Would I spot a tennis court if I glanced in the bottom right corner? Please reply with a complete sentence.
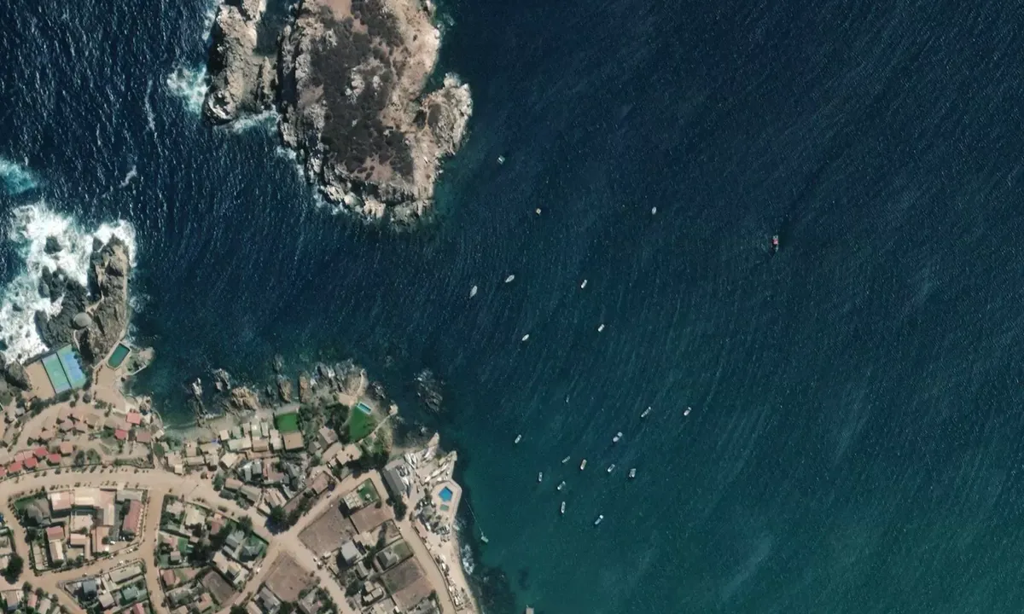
No, no tennis court appears in the bottom right corner.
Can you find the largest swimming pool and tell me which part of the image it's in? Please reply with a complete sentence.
The largest swimming pool appears toward the left of the photo.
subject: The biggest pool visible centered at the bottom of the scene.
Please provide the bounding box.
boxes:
[438,486,453,503]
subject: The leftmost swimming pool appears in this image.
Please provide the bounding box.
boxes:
[106,341,131,370]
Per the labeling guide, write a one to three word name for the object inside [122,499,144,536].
house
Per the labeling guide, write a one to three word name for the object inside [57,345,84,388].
tennis court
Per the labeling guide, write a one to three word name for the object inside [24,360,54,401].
sports court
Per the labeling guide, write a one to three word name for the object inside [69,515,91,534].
house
